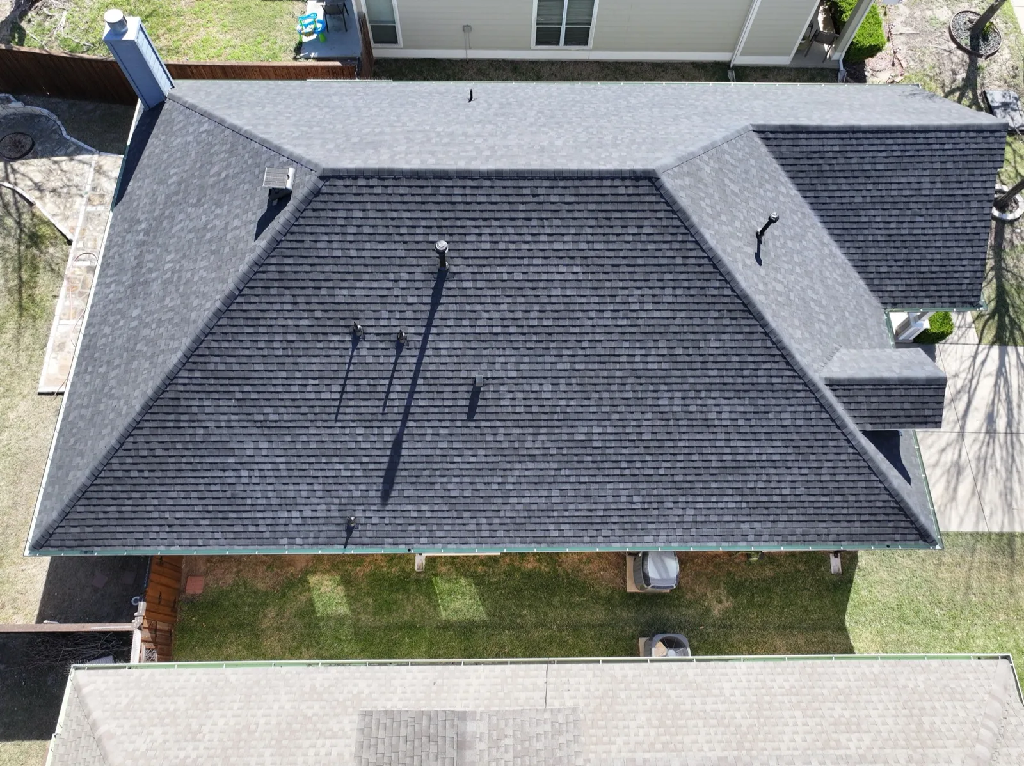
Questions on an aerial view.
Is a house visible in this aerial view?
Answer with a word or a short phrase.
Yes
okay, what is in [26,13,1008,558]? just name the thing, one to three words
house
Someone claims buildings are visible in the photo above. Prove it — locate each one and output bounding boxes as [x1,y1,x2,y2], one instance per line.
[345,0,877,72]
[44,653,1024,766]
[26,13,1008,558]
